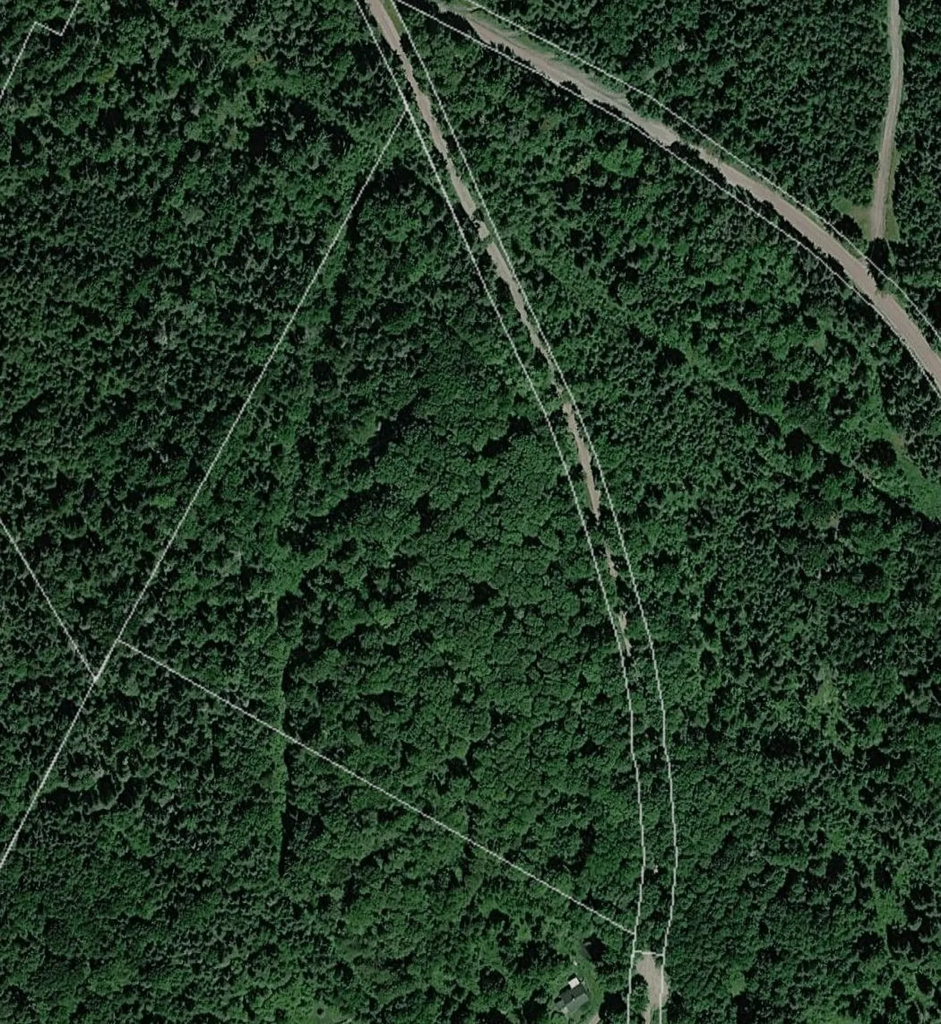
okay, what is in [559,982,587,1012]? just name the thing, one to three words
building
